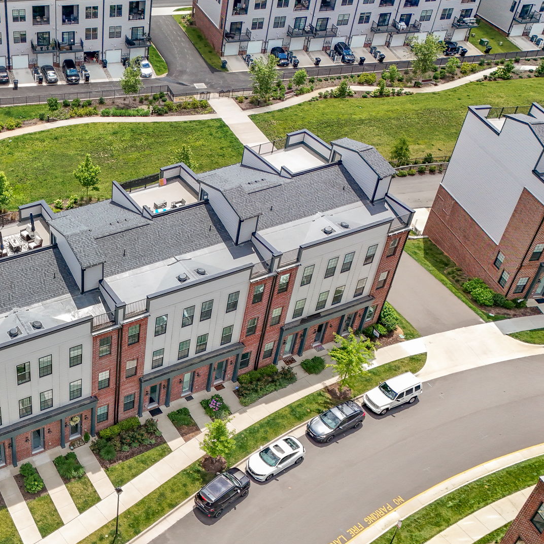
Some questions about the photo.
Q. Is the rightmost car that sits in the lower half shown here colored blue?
No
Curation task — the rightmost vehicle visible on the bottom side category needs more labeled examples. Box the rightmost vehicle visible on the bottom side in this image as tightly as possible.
[366,371,429,416]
